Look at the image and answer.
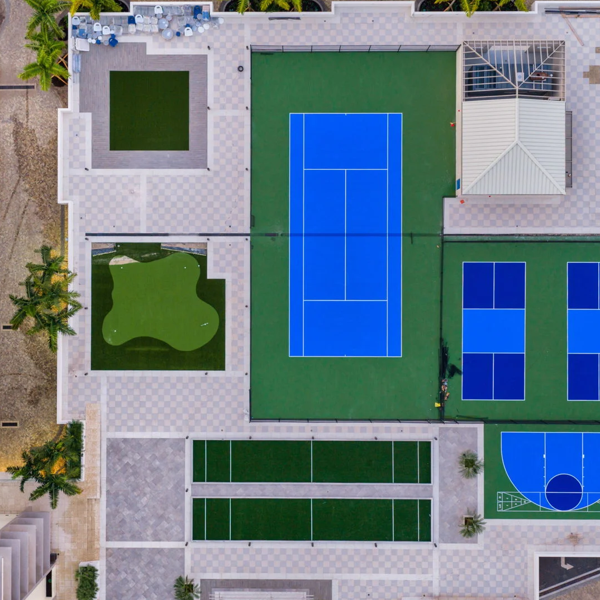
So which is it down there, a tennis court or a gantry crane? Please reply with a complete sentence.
Visible in the photo is a tennis court.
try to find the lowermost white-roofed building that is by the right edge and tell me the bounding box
[457,39,572,198]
